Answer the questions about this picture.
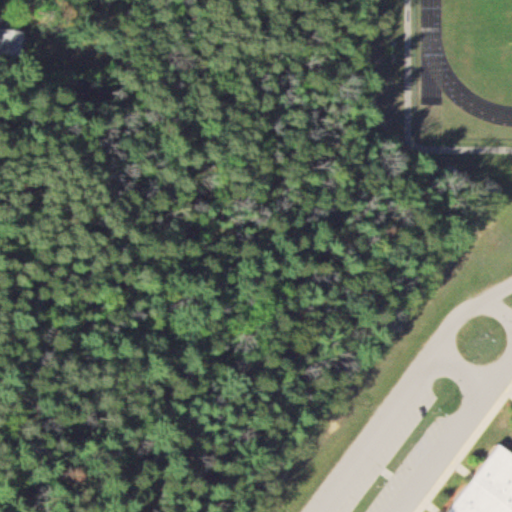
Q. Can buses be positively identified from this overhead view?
No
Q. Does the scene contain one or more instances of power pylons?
No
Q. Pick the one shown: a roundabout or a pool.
roundabout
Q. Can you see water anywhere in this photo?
No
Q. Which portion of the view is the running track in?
top right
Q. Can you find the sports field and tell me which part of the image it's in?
top right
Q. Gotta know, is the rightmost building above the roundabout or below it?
below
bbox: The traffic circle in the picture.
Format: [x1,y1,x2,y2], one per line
[456,316,507,365]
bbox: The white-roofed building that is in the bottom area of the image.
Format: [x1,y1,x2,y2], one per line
[448,443,512,512]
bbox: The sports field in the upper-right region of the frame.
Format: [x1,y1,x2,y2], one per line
[442,0,512,107]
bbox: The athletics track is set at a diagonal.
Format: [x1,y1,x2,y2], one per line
[420,0,512,127]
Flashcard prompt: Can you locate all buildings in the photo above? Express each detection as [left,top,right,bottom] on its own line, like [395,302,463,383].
[0,30,26,56]
[448,443,512,512]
